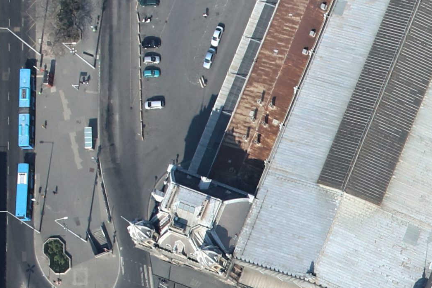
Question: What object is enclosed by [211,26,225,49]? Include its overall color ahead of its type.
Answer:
white car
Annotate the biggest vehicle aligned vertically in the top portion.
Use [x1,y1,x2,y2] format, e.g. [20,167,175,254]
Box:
[18,68,35,150]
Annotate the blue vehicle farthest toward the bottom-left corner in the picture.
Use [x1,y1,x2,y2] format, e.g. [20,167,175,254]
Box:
[16,163,33,222]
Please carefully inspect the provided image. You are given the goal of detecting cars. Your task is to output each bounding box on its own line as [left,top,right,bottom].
[142,39,163,50]
[140,0,161,8]
[211,26,225,49]
[144,54,162,64]
[144,100,165,110]
[144,68,162,78]
[203,49,217,70]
